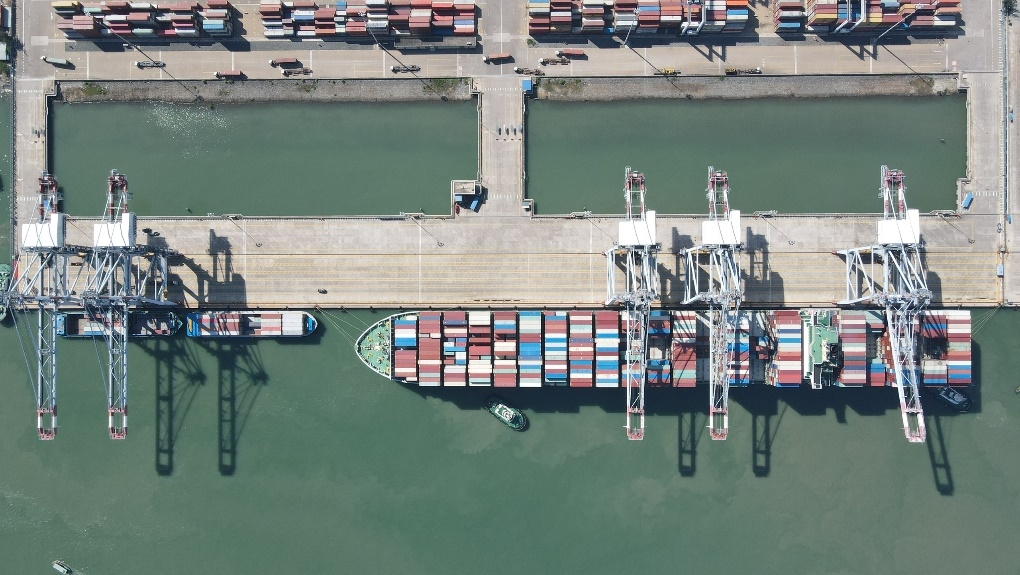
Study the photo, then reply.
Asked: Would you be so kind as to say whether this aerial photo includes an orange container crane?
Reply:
No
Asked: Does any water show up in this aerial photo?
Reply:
Yes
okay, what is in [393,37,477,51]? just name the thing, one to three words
shed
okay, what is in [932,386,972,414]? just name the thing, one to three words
boat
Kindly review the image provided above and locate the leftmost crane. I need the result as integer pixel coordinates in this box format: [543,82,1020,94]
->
[0,170,111,441]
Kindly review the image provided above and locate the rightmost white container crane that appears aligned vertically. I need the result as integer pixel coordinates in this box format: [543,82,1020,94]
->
[835,165,941,444]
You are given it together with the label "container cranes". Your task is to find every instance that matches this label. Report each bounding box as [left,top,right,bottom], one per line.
[602,166,659,440]
[835,165,941,444]
[679,0,707,39]
[0,170,111,441]
[676,166,746,441]
[75,169,180,441]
